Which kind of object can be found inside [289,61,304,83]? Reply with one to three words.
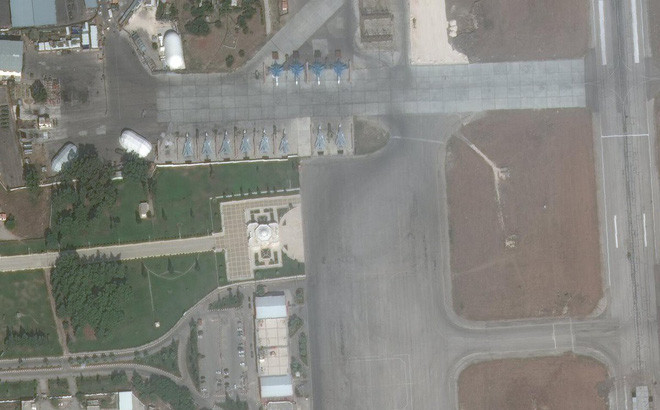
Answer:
airplane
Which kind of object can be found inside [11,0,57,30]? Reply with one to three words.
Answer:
hangar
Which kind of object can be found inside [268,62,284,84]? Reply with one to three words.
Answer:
airplane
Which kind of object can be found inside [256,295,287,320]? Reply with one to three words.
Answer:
building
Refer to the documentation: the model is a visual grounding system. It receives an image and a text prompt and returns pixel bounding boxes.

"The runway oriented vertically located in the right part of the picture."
[586,0,660,410]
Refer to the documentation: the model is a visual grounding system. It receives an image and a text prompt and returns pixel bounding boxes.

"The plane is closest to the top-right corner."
[331,60,346,82]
